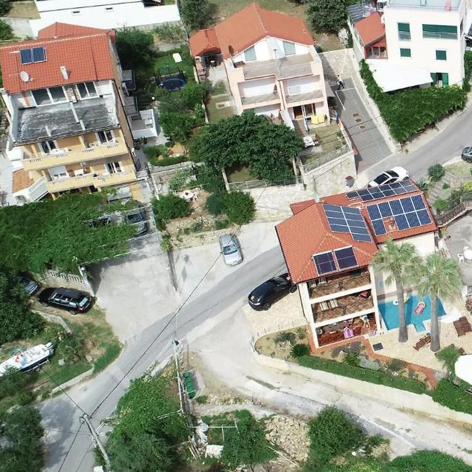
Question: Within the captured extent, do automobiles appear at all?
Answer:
Yes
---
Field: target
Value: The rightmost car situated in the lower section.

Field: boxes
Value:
[243,265,295,305]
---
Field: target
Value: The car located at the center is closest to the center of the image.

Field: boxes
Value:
[216,226,242,262]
